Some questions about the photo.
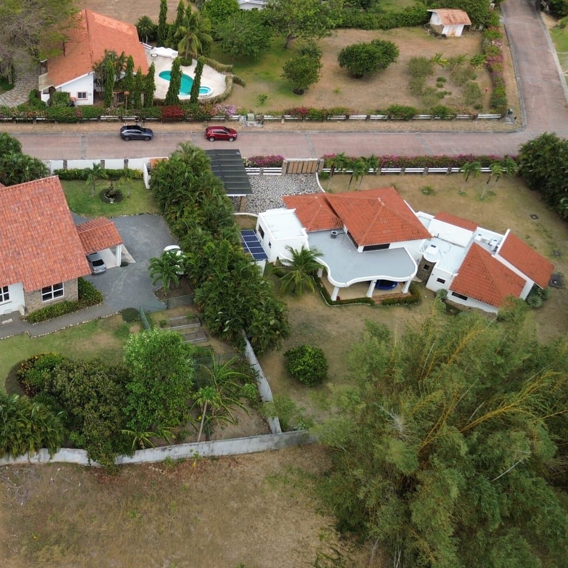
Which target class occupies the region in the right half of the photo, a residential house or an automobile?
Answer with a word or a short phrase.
residential house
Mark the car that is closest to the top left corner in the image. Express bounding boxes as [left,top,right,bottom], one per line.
[120,125,153,142]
